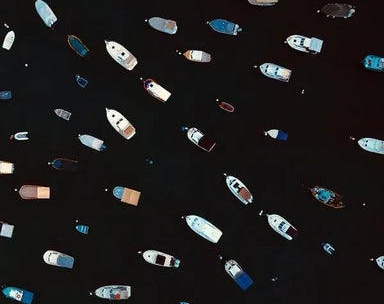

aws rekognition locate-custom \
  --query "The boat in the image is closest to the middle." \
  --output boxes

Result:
[186,128,216,152]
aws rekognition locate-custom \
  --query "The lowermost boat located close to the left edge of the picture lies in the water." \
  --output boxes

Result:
[2,288,32,304]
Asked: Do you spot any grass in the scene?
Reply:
No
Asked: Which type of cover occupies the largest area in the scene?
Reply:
water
